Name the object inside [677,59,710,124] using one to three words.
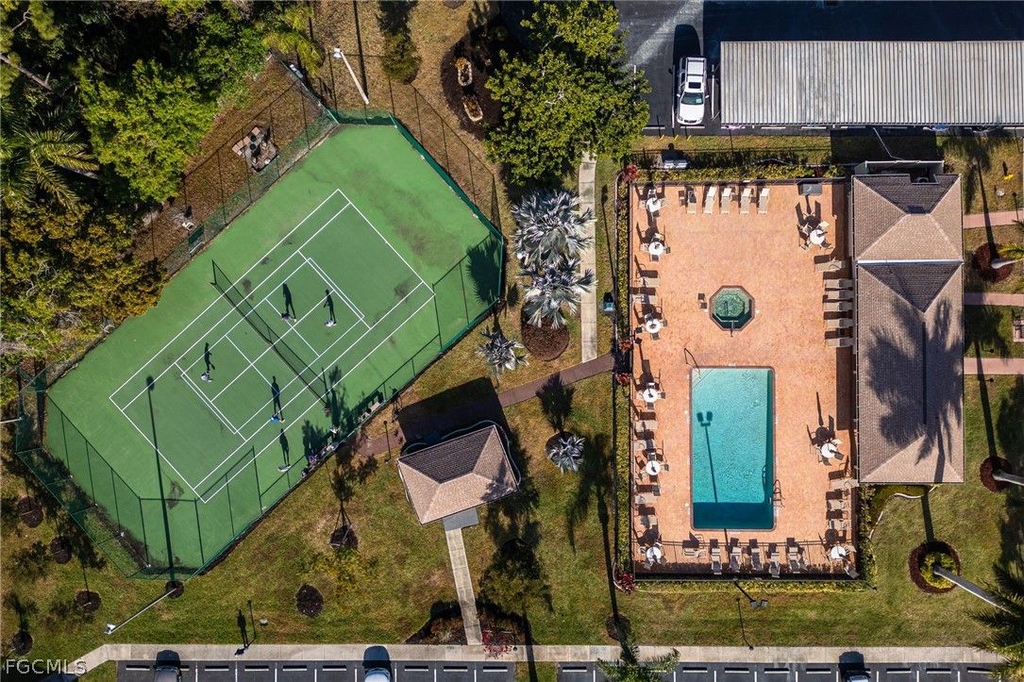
car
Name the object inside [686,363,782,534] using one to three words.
swimming pool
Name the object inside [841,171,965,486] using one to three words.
building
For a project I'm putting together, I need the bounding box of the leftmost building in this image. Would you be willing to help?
[395,424,520,525]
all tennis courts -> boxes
[46,126,500,571]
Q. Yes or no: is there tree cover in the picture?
Yes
